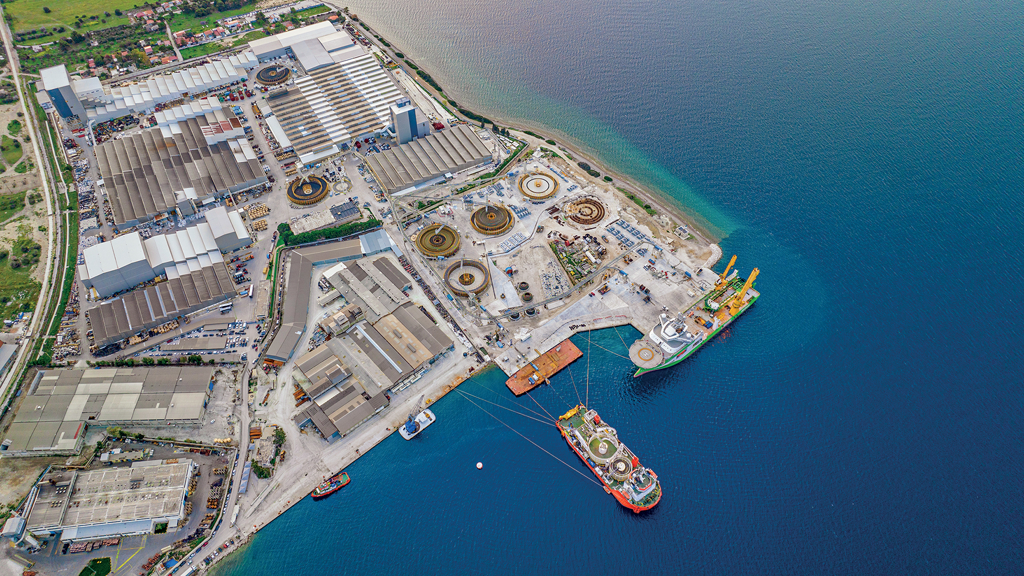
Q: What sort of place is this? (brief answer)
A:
port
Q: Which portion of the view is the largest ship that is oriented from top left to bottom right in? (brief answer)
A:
bottom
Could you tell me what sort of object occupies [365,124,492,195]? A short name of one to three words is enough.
building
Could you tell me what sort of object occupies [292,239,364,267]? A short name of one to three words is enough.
building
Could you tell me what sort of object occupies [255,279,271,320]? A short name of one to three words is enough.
shed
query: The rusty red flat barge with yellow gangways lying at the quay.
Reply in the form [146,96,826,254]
[505,339,583,397]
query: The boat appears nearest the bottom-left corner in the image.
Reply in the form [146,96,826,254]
[305,471,351,498]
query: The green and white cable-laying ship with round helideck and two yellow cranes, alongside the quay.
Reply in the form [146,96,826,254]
[629,256,761,376]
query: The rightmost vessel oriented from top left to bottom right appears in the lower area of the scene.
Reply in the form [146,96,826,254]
[555,403,664,509]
